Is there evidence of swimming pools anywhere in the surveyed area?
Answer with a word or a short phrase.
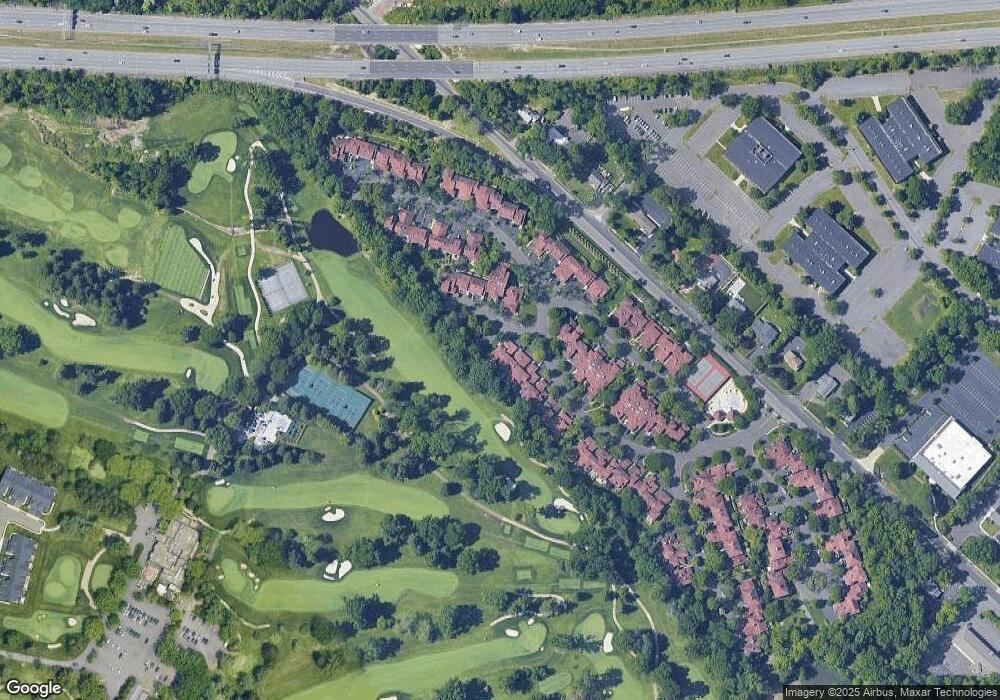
Yes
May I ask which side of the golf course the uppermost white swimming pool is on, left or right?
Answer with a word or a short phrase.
on the right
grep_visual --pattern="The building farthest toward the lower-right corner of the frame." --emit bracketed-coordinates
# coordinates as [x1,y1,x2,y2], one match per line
[959,632,1000,681]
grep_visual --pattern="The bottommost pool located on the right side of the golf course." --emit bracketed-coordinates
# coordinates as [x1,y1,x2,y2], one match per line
[704,378,747,419]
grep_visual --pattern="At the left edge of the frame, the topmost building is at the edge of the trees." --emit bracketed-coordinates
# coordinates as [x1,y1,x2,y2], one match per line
[0,465,58,516]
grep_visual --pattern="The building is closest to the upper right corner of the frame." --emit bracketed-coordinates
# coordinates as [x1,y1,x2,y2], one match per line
[859,97,943,183]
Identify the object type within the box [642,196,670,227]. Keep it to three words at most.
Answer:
house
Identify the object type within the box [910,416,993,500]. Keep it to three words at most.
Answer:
building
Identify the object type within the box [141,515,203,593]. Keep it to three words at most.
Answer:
building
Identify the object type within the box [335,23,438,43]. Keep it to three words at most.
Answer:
bridge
